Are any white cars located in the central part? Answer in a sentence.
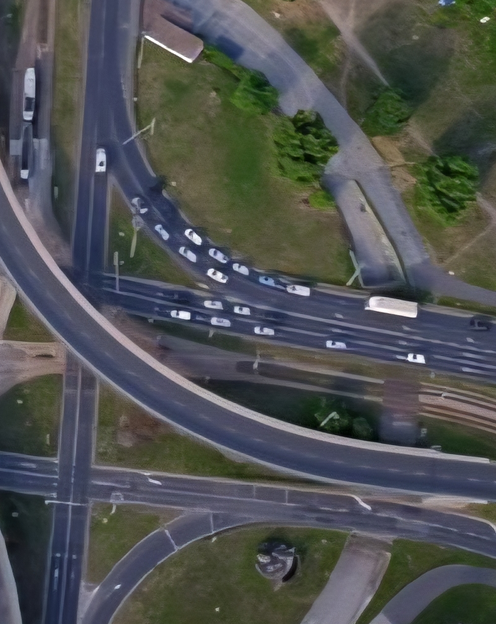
Yes, a white car is visible in the central part.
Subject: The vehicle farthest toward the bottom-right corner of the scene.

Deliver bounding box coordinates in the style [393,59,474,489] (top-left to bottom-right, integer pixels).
[405,352,428,367]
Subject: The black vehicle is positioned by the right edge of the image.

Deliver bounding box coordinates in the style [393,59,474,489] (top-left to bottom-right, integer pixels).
[468,315,493,332]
